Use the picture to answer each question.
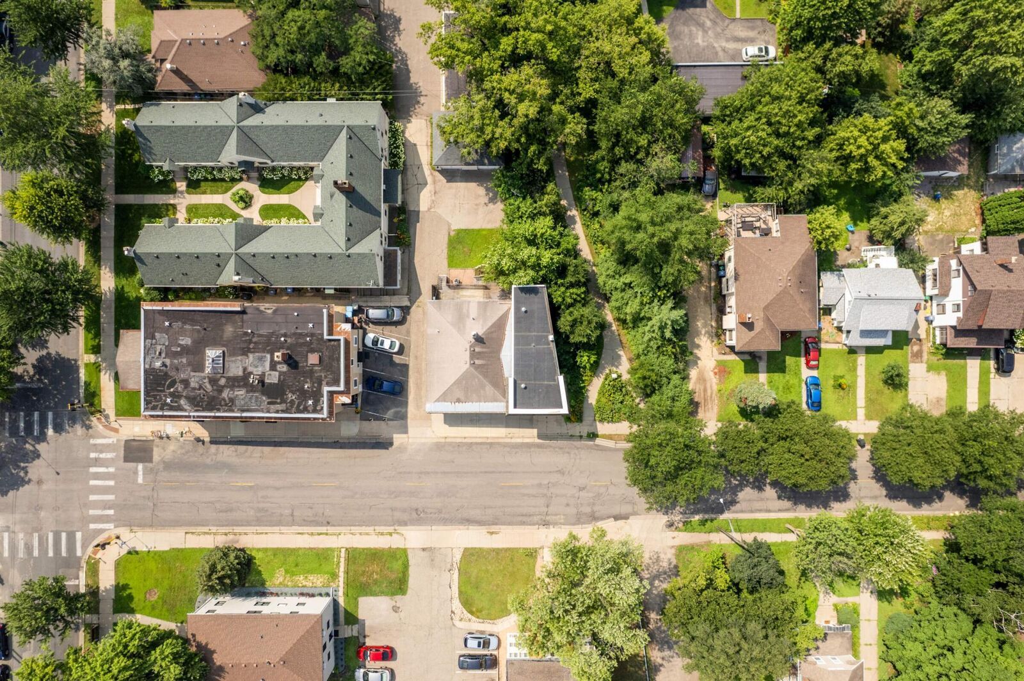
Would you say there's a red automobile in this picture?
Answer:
Yes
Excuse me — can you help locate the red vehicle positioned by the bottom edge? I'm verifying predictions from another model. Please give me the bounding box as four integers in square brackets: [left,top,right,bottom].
[357,644,393,663]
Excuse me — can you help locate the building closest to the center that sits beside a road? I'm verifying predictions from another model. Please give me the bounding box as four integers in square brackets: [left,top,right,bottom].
[426,286,567,413]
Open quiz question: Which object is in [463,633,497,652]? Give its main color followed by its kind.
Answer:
white car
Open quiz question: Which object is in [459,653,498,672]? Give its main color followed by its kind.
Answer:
gray car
